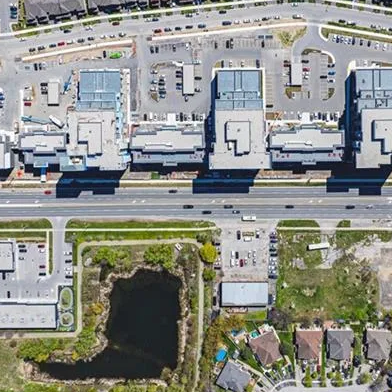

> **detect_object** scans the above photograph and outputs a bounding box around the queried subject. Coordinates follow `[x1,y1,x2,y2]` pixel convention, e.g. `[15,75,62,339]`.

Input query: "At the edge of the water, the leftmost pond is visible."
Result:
[38,269,181,380]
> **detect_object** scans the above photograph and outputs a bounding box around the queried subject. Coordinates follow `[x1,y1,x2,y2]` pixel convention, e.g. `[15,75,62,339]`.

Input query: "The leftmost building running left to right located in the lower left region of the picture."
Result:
[0,301,59,329]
